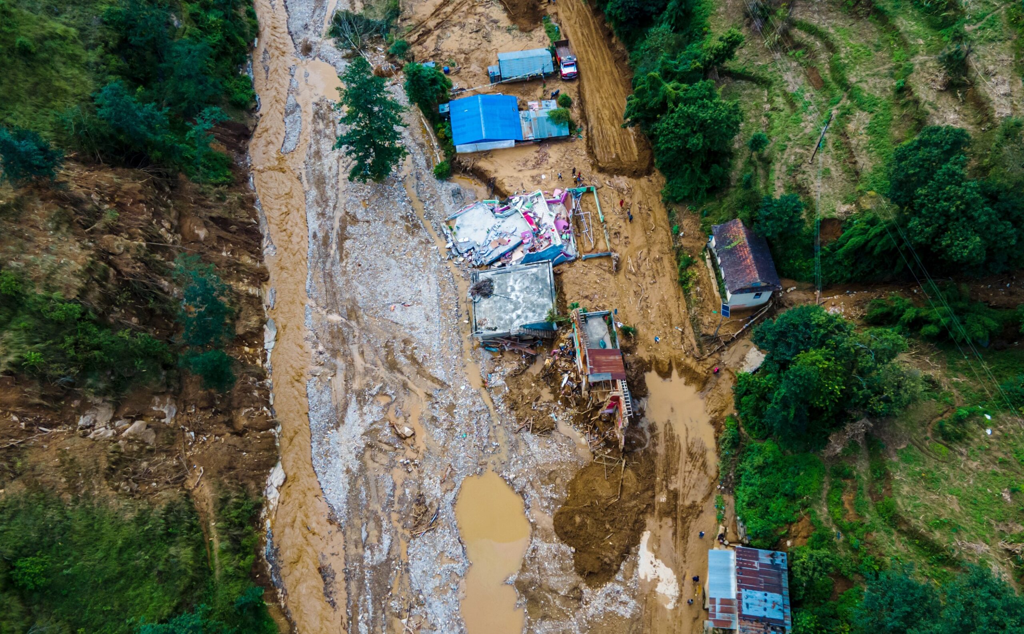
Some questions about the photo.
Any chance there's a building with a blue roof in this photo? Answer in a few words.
Yes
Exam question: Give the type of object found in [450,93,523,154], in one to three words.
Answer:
house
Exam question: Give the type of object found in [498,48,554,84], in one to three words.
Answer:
shed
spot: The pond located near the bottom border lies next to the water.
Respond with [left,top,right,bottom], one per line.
[452,467,534,634]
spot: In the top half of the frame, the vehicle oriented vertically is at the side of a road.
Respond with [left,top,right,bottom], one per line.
[555,34,579,80]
